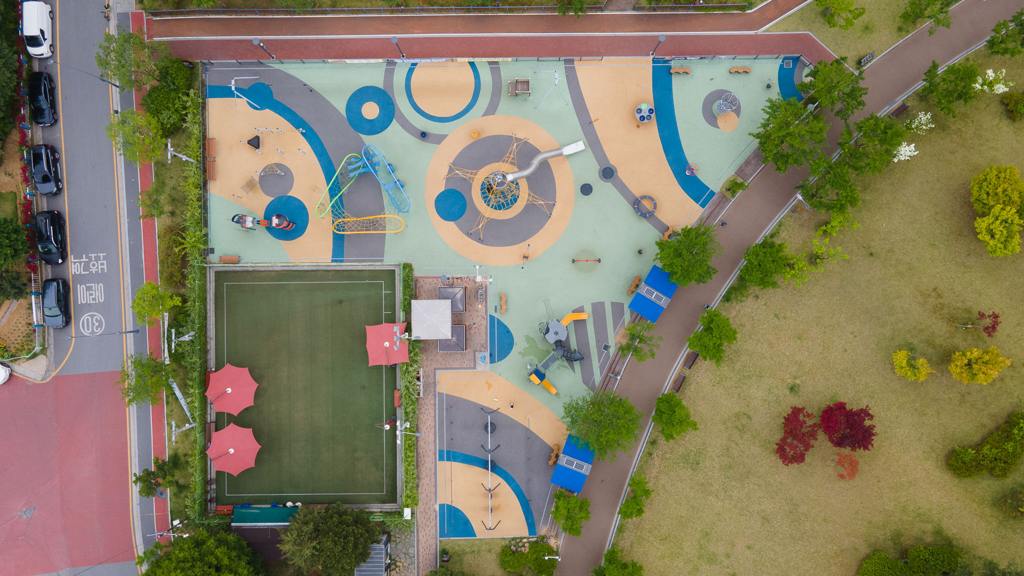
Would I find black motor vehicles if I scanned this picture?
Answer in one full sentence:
Yes, the picture does show a black motor vehicle.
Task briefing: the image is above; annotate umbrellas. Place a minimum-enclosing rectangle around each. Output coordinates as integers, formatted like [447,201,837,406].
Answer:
[203,423,262,476]
[201,363,259,416]
[366,322,409,368]
[375,416,397,430]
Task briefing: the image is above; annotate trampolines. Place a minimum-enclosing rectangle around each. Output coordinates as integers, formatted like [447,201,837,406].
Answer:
[602,166,615,179]
[580,183,593,196]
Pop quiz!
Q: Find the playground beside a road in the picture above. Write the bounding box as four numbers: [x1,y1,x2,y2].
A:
[206,57,815,539]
